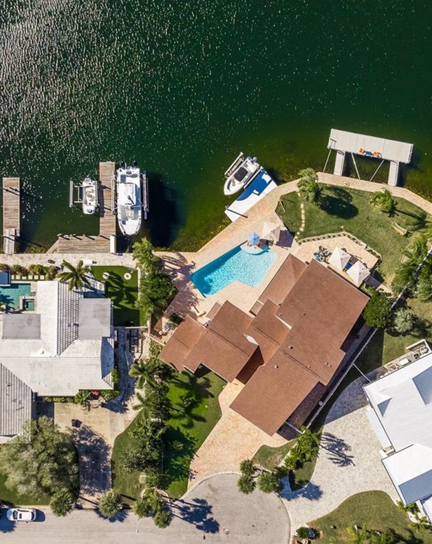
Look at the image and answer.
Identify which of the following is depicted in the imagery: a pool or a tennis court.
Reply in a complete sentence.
The one in the frame is a pool.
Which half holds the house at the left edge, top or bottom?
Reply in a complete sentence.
It is in the bottom half that the house at the left edge appears.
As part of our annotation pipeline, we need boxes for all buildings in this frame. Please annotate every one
[0,281,115,444]
[361,350,432,521]
[159,254,371,437]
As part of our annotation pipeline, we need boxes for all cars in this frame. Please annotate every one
[8,509,38,524]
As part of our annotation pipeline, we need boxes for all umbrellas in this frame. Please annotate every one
[261,220,285,244]
[347,262,370,283]
[248,233,260,245]
[329,248,351,270]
